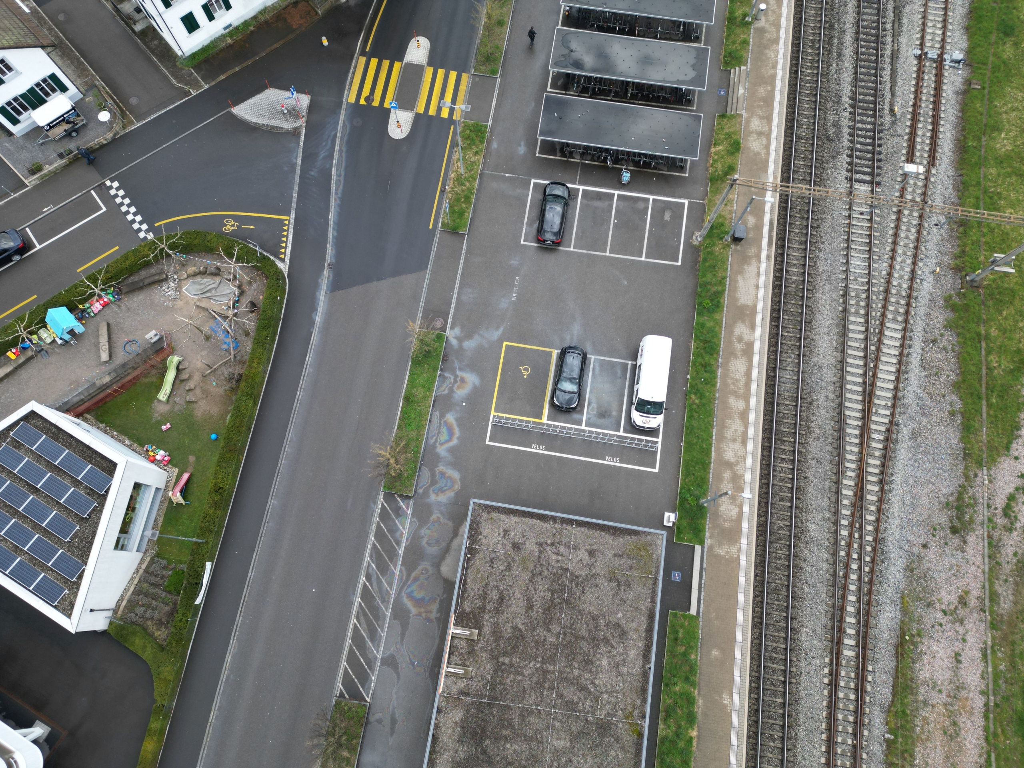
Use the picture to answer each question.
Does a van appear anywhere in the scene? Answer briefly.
Yes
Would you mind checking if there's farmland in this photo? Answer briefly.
No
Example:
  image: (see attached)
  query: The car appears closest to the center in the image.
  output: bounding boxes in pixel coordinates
[549,344,588,413]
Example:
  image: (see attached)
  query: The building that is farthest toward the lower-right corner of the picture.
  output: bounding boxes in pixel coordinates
[424,499,666,768]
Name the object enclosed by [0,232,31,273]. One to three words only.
car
